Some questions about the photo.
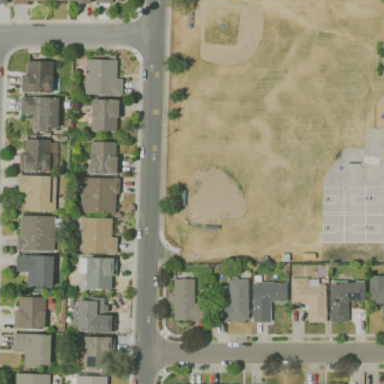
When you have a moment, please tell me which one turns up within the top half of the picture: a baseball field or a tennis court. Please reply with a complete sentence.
You can see a baseball field within the top half of the picture.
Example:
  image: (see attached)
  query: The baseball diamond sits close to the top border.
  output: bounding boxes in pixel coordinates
[200,0,263,64]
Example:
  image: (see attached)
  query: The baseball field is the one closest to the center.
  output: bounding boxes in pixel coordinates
[184,167,246,224]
